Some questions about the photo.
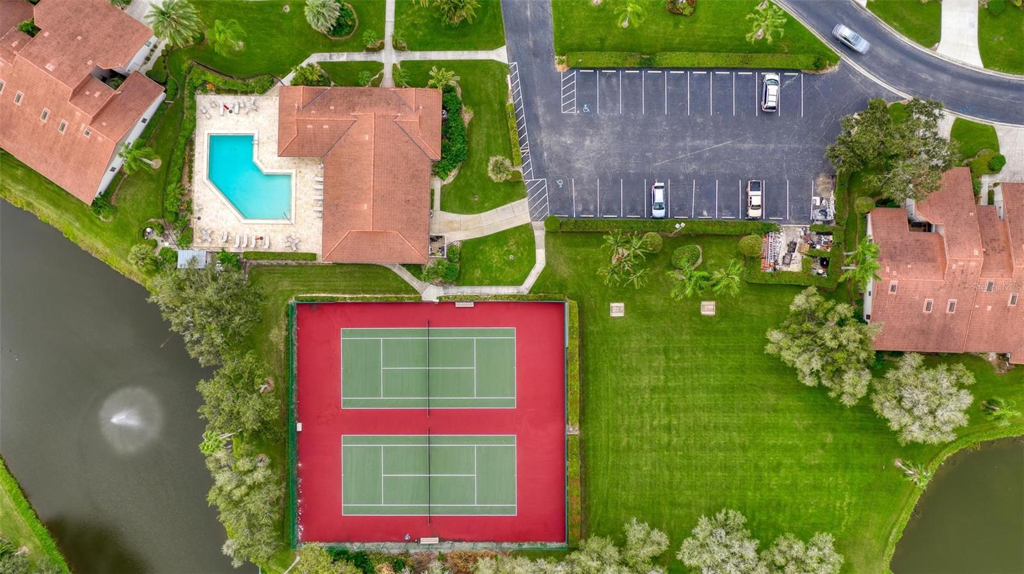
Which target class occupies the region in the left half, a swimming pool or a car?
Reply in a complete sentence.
Looking in the left half, you will find a swimming pool.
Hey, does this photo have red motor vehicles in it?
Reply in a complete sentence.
No, no red motor vehicle is visible in the view.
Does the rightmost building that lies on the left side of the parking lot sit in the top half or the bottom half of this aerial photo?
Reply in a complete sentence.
The top half of the photo is where the rightmost building that lies on the left side of the parking lot is.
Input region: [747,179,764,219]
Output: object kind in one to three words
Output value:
vehicle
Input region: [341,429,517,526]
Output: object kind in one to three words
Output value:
tennis court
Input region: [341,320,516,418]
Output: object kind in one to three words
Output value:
tennis court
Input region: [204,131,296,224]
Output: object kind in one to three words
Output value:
swimming pool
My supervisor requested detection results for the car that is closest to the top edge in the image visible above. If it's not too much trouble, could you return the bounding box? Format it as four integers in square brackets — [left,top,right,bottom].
[833,24,870,52]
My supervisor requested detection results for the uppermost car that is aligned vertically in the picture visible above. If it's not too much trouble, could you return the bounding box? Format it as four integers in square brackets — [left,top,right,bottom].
[761,74,780,112]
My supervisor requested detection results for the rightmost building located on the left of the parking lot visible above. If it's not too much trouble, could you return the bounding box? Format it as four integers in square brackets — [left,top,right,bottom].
[277,86,442,264]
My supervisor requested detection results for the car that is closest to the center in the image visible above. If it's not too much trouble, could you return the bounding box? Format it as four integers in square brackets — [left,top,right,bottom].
[651,182,666,218]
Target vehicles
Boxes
[747,179,764,219]
[761,74,780,112]
[833,24,870,52]
[651,182,666,218]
